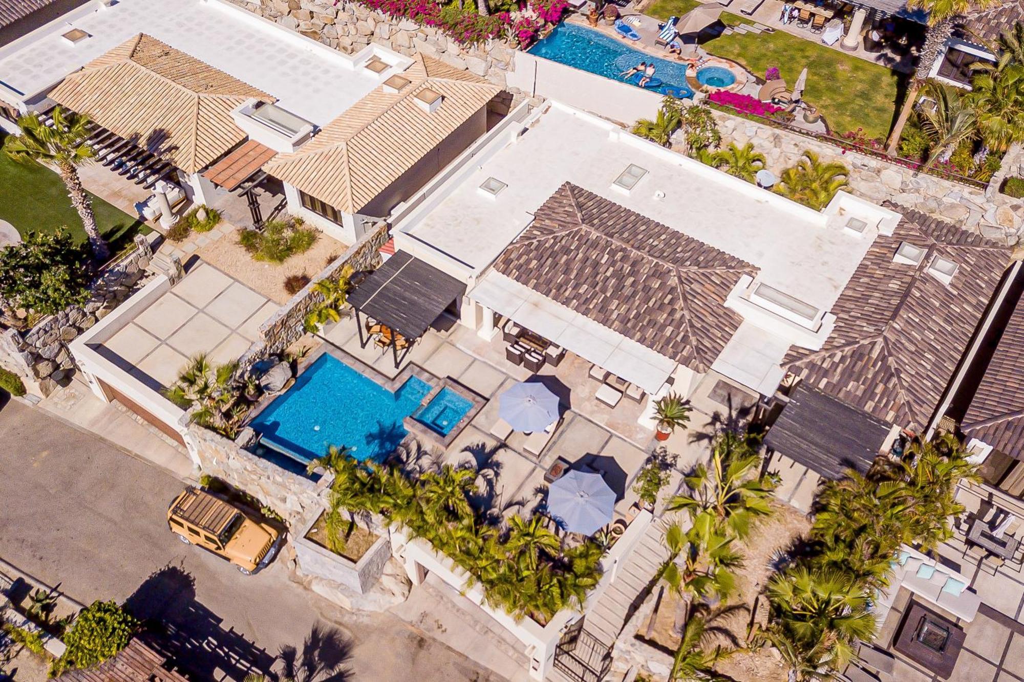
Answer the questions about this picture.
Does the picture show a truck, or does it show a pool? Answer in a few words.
pool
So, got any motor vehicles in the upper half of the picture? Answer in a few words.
No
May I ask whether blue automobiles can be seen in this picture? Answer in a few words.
No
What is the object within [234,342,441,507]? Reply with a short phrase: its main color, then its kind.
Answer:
blue swimming pool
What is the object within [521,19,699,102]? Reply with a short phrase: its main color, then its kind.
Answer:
blue swimming pool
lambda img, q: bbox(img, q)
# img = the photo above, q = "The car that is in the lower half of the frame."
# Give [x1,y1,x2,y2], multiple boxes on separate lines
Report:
[169,488,281,578]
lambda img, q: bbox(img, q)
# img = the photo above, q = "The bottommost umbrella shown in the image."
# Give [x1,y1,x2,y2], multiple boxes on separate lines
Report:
[549,479,615,541]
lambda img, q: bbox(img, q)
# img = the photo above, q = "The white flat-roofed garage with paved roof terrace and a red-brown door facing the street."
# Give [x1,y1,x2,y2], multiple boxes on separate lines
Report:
[65,274,214,449]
